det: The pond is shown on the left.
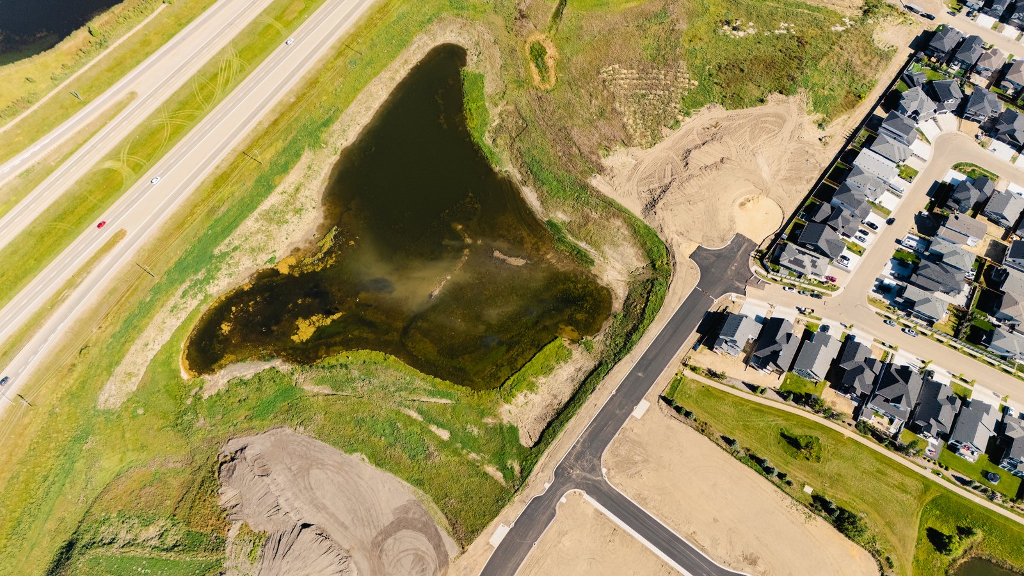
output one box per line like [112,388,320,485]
[185,43,613,389]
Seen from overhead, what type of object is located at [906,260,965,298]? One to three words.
house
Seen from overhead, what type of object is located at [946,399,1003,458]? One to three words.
house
